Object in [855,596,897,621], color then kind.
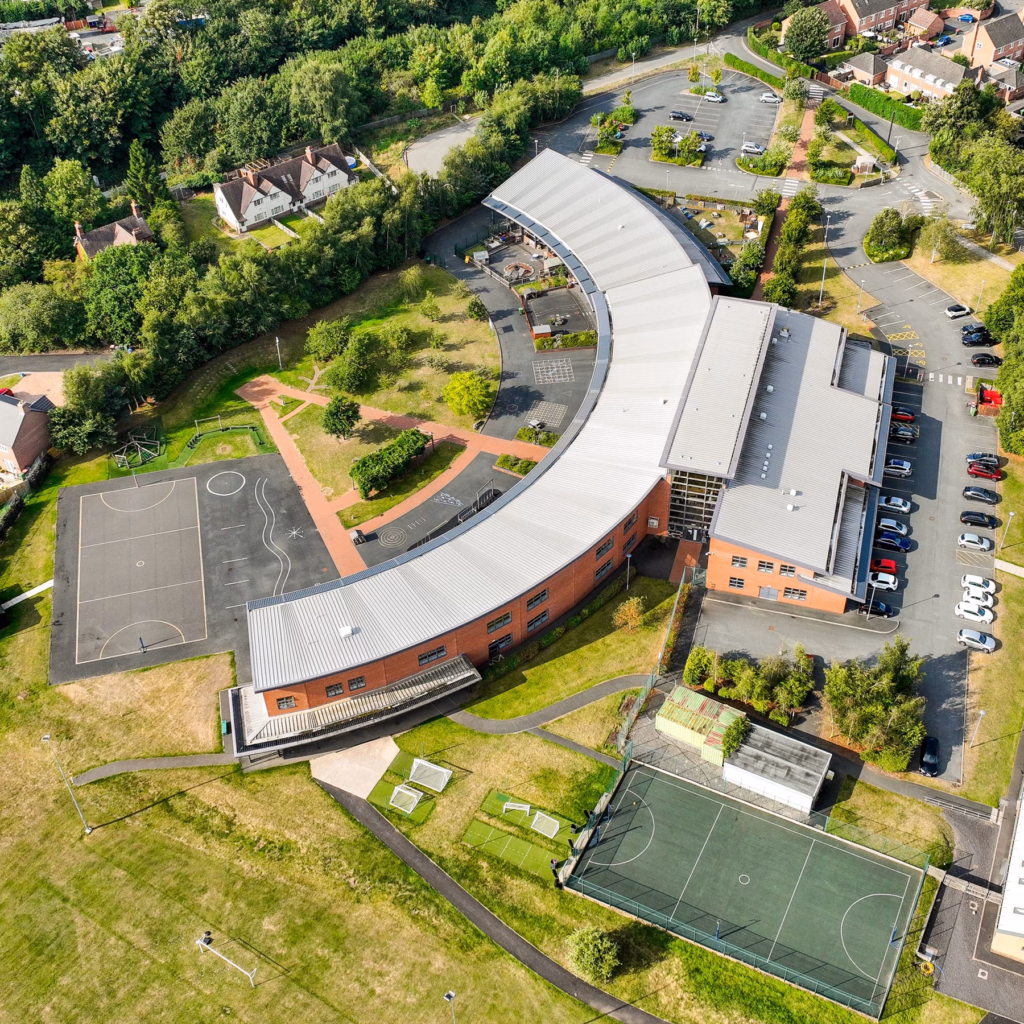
black car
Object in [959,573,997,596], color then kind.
white car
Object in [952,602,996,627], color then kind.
white car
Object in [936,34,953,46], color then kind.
blue vehicle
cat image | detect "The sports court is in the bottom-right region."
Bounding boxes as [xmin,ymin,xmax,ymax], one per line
[573,762,924,1017]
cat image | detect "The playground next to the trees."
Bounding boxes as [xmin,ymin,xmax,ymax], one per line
[50,452,339,684]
